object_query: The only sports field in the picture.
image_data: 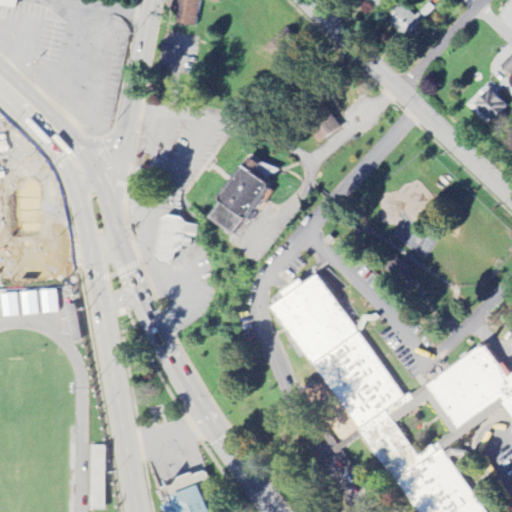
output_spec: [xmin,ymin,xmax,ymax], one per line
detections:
[0,330,75,512]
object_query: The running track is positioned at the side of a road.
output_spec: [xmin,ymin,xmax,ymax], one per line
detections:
[0,314,90,512]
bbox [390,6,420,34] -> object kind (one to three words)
house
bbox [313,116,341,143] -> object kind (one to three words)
building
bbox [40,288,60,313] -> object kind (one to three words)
shed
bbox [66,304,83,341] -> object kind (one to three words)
building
